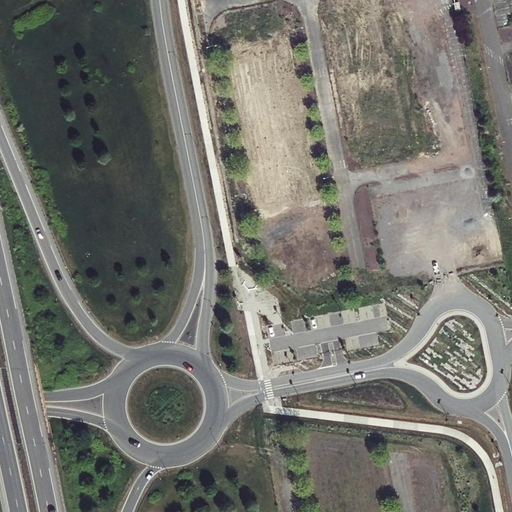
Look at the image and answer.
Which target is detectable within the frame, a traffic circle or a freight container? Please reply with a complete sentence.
The image shows a traffic circle.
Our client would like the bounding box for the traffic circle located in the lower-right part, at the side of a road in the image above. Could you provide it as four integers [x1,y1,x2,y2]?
[374,274,512,498]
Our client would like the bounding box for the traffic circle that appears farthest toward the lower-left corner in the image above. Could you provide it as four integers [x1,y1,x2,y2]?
[103,342,228,468]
